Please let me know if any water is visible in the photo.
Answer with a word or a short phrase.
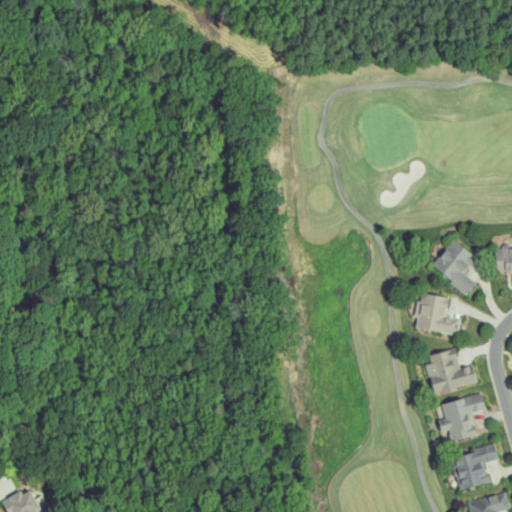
No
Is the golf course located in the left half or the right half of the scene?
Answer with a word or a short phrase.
right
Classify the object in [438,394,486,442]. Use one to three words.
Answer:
house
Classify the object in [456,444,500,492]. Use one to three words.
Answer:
house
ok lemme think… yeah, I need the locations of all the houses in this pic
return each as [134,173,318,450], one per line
[438,394,486,442]
[435,240,478,294]
[425,348,478,394]
[415,294,460,336]
[456,444,500,492]
[466,492,512,512]
[2,489,46,512]
[496,244,512,274]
